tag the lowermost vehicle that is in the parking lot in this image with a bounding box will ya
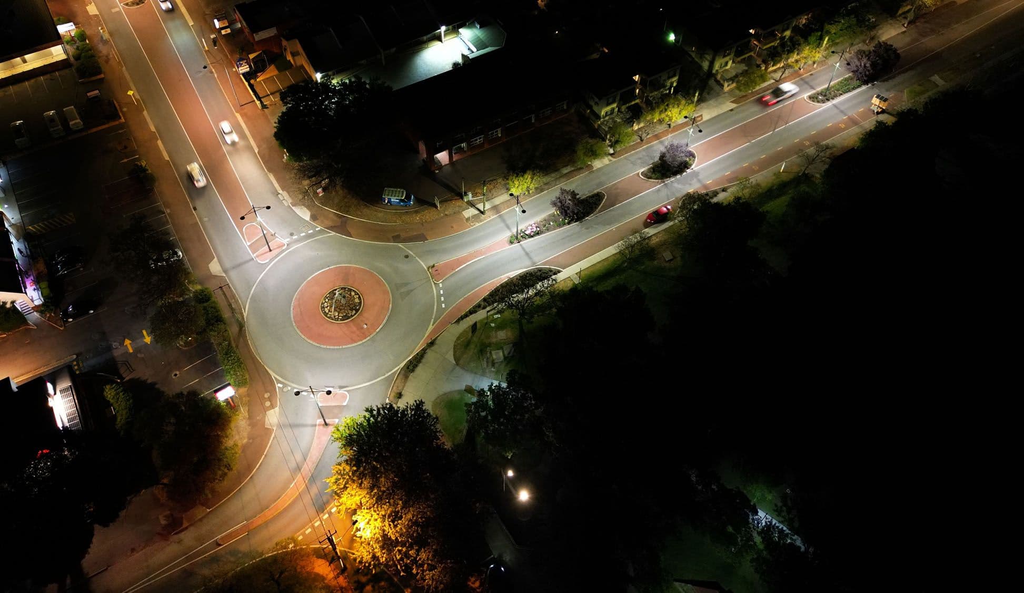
[62,301,97,323]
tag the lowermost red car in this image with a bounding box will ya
[645,204,673,225]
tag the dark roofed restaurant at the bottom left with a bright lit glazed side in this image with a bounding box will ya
[0,369,83,440]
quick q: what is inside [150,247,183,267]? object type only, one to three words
car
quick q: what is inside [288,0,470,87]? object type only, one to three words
building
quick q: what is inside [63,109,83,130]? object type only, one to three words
car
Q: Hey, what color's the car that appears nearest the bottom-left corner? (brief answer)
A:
black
